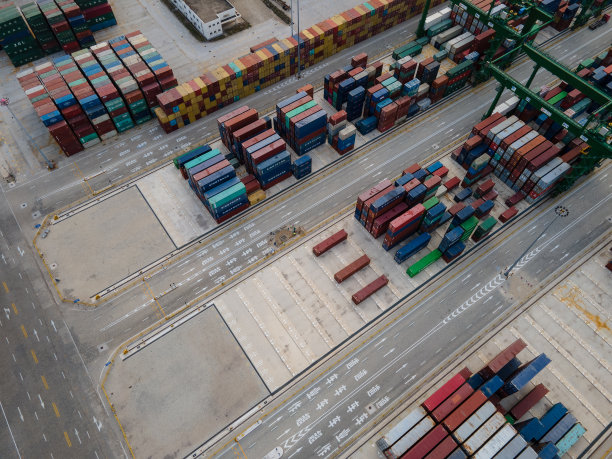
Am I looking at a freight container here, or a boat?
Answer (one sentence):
It is a freight container that can be seen here.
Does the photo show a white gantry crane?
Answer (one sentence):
No, there is no white gantry crane in the image.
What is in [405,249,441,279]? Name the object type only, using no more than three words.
shipping container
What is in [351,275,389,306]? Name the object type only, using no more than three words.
shipping container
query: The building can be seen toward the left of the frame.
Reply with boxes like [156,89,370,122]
[170,0,243,39]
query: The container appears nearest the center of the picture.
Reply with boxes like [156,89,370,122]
[313,229,348,258]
